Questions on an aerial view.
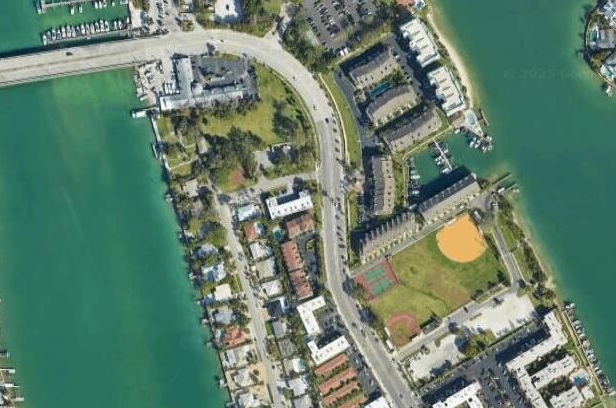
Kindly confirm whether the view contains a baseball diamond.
Yes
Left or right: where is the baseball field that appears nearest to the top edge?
right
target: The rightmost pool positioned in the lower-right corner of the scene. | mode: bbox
[566,367,589,388]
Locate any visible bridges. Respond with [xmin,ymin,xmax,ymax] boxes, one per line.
[0,40,123,86]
